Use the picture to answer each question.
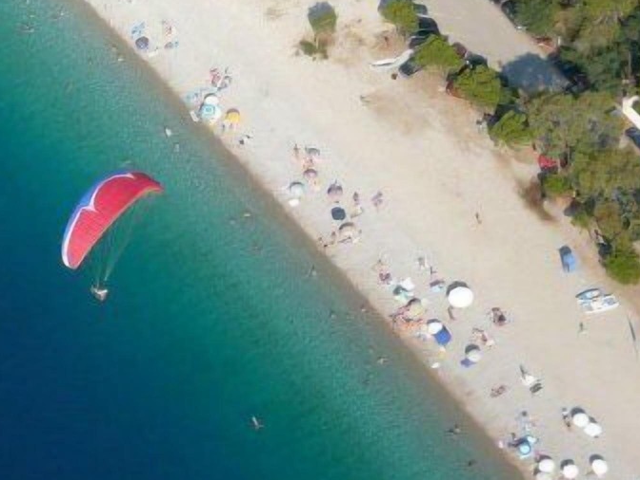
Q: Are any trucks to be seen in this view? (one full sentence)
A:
No, I find no truck anywhere in the image.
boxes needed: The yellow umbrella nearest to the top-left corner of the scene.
[225,112,238,126]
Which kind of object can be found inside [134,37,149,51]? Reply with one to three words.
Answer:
umbrella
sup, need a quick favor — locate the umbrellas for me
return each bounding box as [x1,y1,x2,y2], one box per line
[203,106,219,121]
[447,285,473,309]
[591,461,607,476]
[289,183,303,197]
[134,37,149,51]
[428,323,441,336]
[435,329,452,346]
[539,460,554,475]
[203,94,218,106]
[407,302,423,317]
[468,350,482,366]
[563,465,578,480]
[585,423,602,440]
[397,286,412,301]
[225,112,238,126]
[332,208,346,222]
[575,412,590,428]
[517,443,532,456]
[306,149,320,163]
[305,170,318,183]
[537,472,552,480]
